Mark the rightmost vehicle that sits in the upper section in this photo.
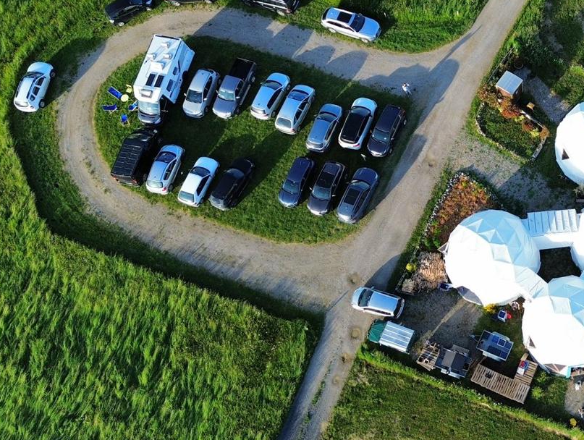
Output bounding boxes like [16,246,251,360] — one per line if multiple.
[368,104,405,157]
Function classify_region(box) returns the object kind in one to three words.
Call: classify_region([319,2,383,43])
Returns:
car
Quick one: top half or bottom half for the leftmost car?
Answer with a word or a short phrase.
top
